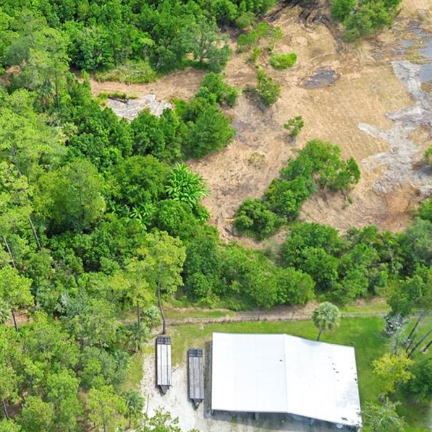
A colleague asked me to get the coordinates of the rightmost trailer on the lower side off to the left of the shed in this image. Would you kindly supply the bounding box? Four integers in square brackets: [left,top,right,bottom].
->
[189,348,204,409]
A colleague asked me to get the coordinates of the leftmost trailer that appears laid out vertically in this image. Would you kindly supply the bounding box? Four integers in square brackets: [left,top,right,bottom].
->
[157,336,172,397]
